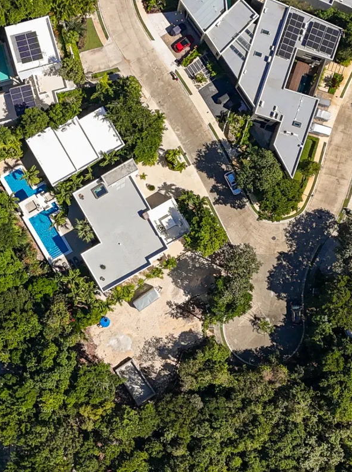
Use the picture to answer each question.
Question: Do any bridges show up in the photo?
No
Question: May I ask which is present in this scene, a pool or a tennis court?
pool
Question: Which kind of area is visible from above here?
residential area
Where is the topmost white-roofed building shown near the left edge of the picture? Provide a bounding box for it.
[0,16,77,124]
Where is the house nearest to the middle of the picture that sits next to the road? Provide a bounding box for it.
[73,158,188,291]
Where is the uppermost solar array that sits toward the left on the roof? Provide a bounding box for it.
[16,31,43,63]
